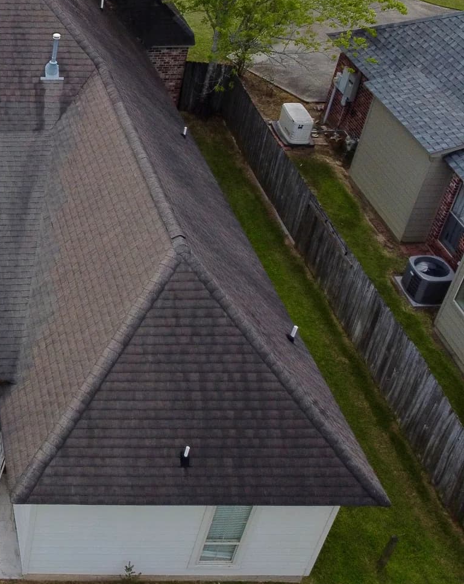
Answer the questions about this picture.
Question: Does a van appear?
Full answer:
No, I can't see a single van in this photo.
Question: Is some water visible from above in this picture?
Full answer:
No, the scene doesn't show any water.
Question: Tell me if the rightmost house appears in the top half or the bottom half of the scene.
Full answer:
The rightmost house is in the top half of the image.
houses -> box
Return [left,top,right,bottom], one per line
[310,28,464,373]
[0,0,392,582]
